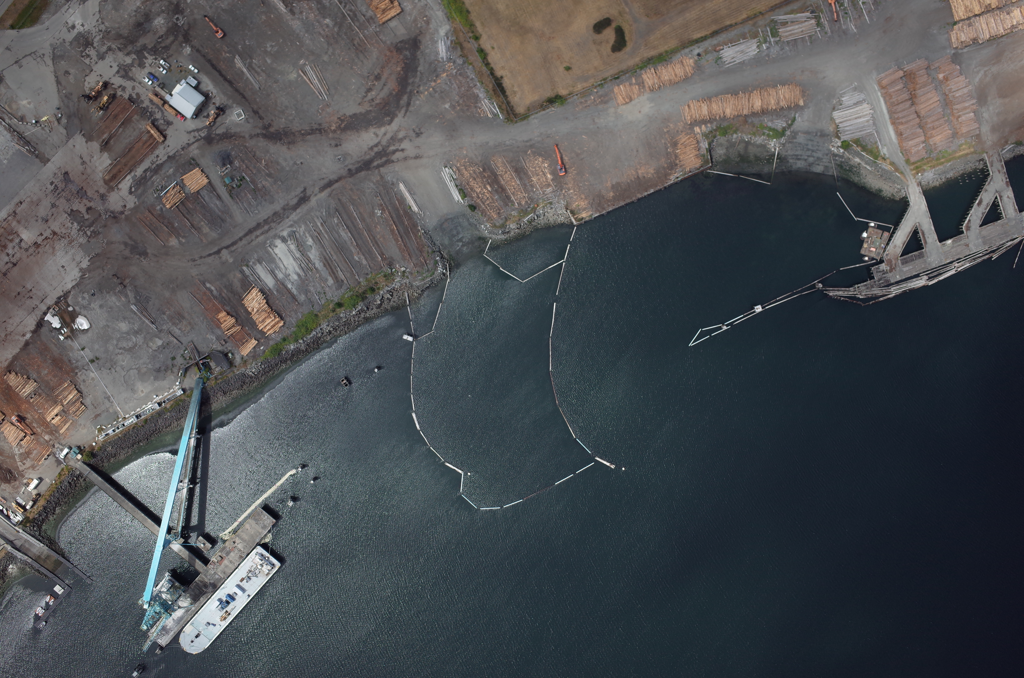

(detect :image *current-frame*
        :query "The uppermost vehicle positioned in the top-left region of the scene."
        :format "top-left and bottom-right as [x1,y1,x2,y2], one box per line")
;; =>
[204,15,226,39]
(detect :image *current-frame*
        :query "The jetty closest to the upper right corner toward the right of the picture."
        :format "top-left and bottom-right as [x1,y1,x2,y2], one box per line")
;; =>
[962,149,1020,235]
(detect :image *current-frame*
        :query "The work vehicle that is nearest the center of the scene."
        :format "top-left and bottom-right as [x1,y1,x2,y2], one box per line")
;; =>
[554,146,566,177]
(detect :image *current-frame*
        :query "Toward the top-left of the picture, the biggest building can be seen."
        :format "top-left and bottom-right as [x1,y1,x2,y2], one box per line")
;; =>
[164,79,207,120]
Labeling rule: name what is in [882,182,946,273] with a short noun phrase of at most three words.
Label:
pier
